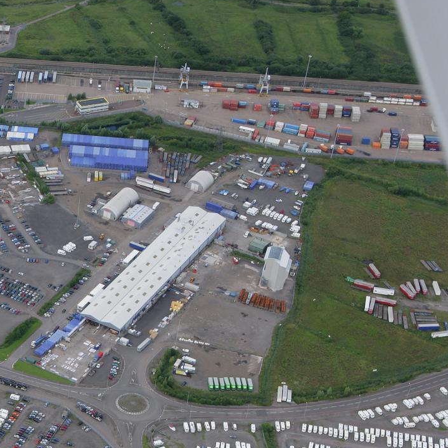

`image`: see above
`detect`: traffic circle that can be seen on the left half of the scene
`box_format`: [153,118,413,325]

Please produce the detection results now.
[99,381,168,427]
